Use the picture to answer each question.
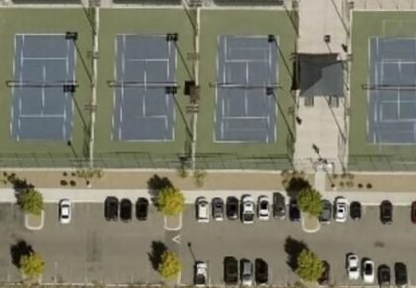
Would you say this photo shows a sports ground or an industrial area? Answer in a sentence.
This image shows a sports ground.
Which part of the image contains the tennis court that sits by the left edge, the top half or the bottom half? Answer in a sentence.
Seen from above, the tennis court that sits by the left edge lies in the top half of the view.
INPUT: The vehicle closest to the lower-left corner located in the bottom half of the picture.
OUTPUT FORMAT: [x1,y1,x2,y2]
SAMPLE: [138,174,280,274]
[59,201,71,223]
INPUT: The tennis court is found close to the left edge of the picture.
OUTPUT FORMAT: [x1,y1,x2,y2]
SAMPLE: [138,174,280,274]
[0,9,95,167]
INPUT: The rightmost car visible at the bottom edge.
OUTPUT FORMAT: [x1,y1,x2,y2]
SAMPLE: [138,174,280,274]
[395,263,408,286]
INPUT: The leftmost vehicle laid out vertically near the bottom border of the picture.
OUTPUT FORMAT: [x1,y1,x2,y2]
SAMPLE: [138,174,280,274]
[195,260,208,287]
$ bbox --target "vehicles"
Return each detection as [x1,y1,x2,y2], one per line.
[227,198,240,221]
[195,260,208,287]
[273,196,286,219]
[289,200,301,223]
[349,201,361,222]
[59,201,71,223]
[346,255,359,279]
[241,261,253,284]
[335,199,347,222]
[380,201,392,224]
[362,260,374,283]
[212,200,224,220]
[256,260,269,283]
[136,198,149,222]
[120,200,133,222]
[242,197,255,223]
[378,264,390,287]
[395,263,408,286]
[318,262,329,284]
[225,259,238,283]
[411,202,416,224]
[197,201,209,221]
[106,198,119,221]
[320,202,332,225]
